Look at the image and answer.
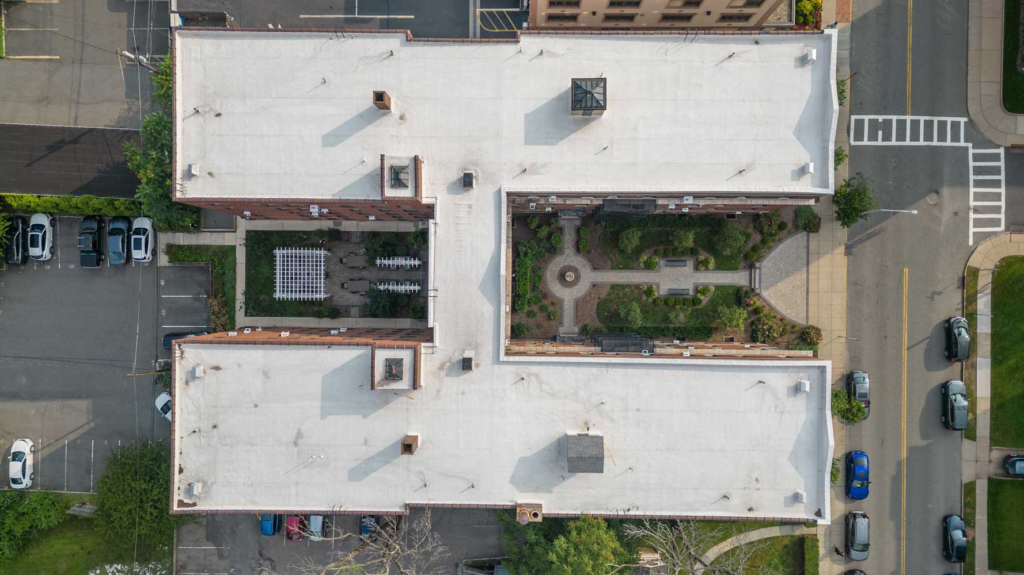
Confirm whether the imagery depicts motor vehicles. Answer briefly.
Yes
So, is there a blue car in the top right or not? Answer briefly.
No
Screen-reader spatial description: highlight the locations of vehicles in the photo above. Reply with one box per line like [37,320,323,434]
[846,371,873,418]
[158,330,206,351]
[1005,456,1024,476]
[73,214,104,269]
[127,217,154,263]
[846,451,873,501]
[0,214,28,264]
[25,213,54,260]
[156,393,172,431]
[4,440,34,492]
[943,515,972,565]
[262,515,285,536]
[310,515,331,540]
[945,316,973,363]
[846,513,873,563]
[103,216,131,265]
[287,515,308,540]
[943,381,972,431]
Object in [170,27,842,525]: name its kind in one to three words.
building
